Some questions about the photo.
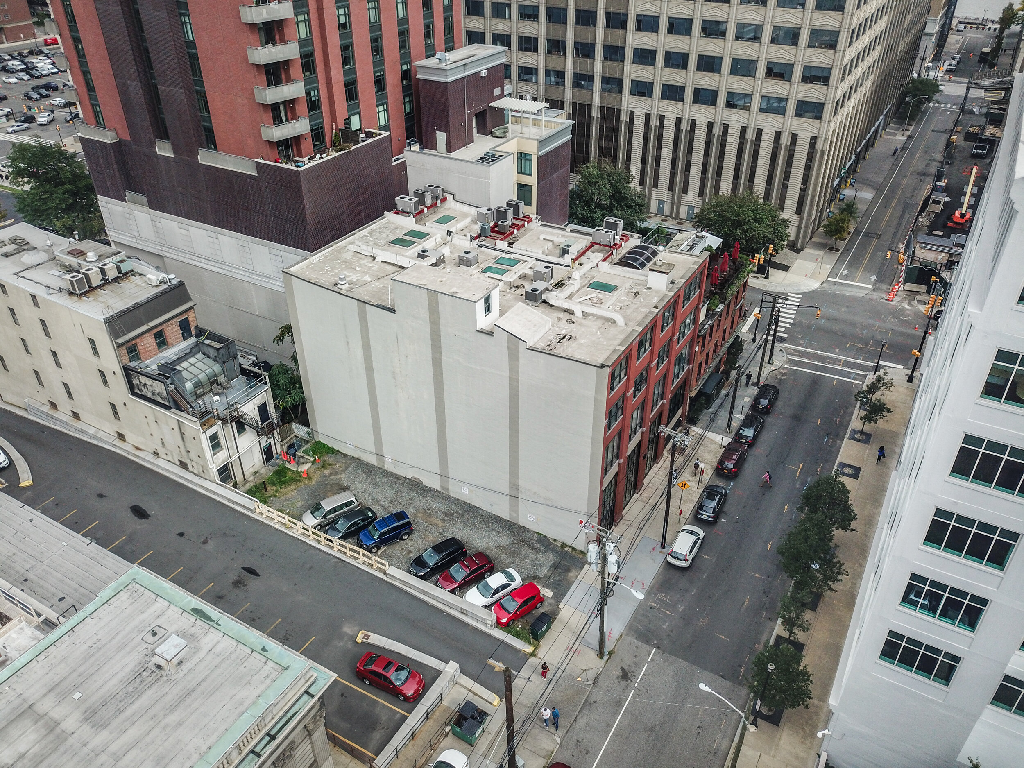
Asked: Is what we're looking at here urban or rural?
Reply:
urban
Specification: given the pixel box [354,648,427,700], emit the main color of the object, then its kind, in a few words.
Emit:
red car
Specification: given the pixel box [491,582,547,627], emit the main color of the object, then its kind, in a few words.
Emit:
red car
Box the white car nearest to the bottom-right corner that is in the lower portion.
[666,521,708,567]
